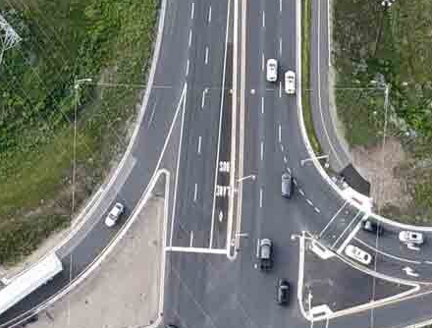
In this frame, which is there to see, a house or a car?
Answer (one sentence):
This aerial view contains a car.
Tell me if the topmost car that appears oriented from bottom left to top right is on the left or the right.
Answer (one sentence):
It is on the left.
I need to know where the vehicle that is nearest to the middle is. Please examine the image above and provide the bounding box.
[281,172,293,199]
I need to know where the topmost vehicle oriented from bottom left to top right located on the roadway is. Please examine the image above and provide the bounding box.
[103,201,124,228]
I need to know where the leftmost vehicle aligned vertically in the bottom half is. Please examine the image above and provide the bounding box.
[259,239,271,271]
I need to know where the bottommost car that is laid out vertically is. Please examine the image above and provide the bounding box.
[278,279,290,307]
